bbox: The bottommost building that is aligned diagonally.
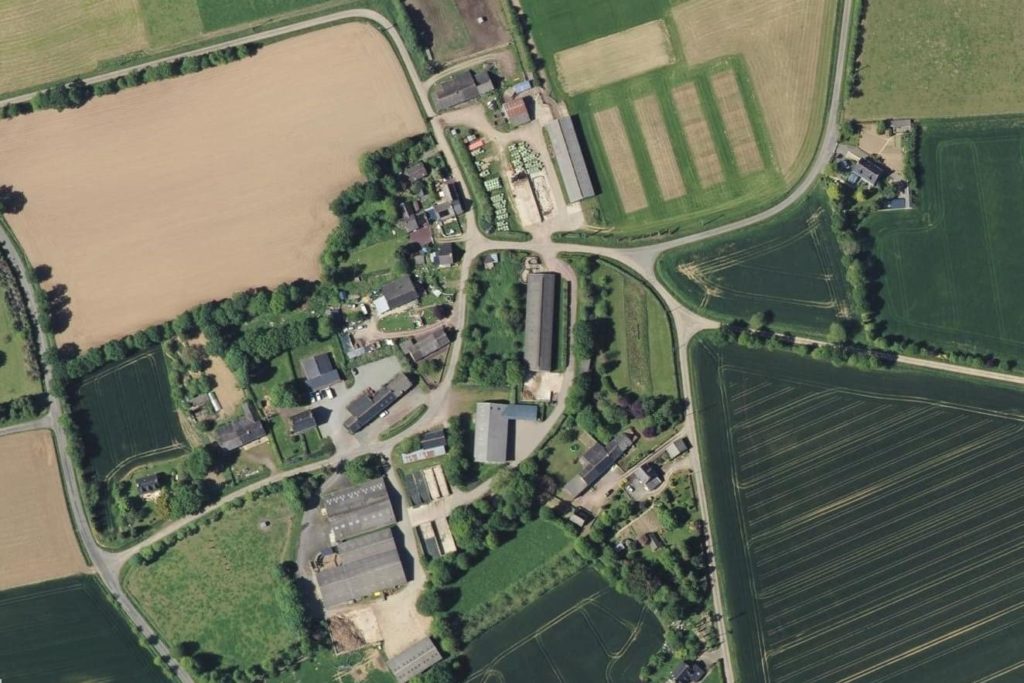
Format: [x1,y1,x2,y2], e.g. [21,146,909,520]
[387,637,442,683]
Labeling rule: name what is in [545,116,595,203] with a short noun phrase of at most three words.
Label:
building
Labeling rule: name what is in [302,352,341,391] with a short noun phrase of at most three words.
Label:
house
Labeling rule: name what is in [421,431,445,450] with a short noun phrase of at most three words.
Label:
shed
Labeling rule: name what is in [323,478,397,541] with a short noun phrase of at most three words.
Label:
barn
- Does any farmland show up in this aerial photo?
Yes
